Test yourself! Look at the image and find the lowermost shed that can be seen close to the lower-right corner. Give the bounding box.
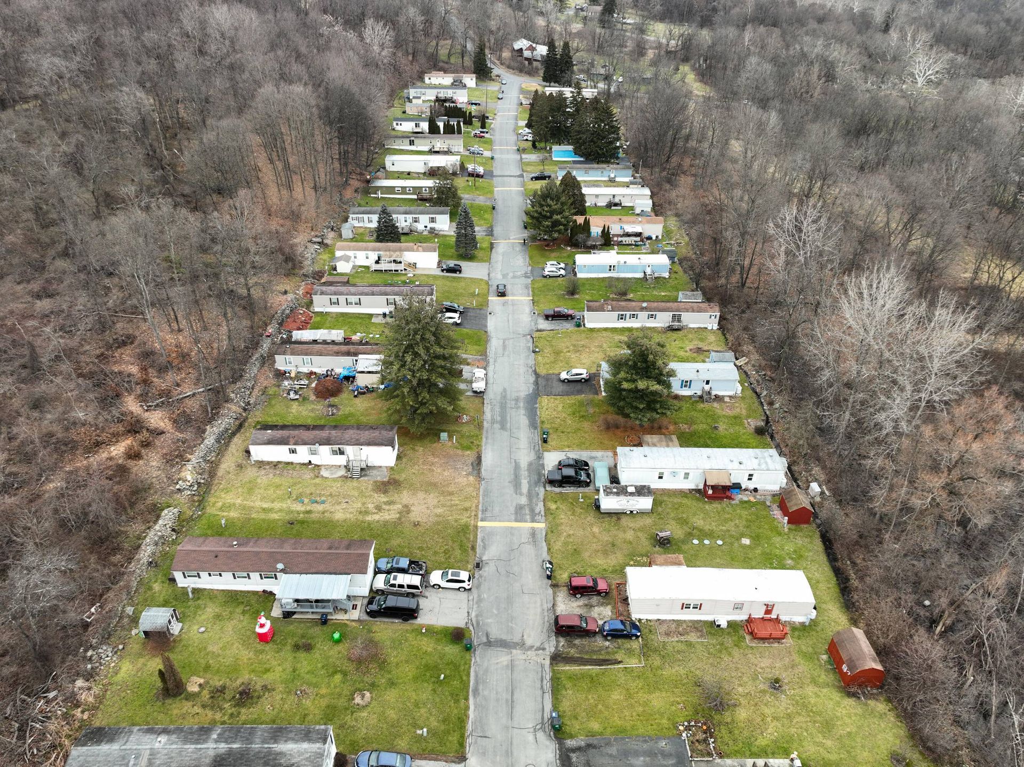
[826,624,893,690]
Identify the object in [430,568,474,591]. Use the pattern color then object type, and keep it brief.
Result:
white car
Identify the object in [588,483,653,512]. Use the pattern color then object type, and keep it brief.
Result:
white trailer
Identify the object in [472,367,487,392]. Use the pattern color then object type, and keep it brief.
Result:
white vehicle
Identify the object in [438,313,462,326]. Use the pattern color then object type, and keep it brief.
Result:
white vehicle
